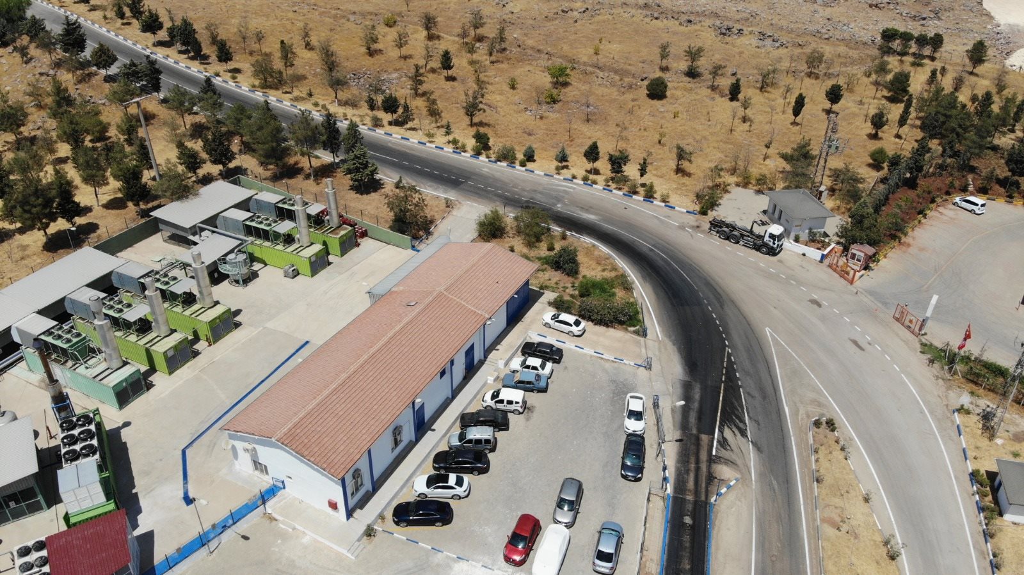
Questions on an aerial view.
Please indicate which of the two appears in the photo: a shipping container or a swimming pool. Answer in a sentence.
There is a shipping container in the scene.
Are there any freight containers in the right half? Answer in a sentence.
No, in the right half there is no freight container.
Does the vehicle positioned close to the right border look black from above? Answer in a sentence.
No, the vehicle positioned close to the right border is white.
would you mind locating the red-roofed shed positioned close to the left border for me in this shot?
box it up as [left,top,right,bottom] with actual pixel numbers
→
[43,507,143,575]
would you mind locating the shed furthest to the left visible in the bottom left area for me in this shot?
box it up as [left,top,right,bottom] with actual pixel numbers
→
[0,415,48,519]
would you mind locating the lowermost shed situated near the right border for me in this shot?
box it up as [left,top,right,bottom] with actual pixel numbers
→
[987,458,1024,532]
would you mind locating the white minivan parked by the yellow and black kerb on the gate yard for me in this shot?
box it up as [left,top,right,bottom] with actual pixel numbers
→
[950,194,991,214]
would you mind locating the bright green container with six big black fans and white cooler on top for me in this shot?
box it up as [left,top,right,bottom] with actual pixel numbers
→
[57,404,123,525]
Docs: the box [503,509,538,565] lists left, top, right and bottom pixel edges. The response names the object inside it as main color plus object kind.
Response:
red car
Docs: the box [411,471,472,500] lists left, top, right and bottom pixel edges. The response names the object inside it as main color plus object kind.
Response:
white car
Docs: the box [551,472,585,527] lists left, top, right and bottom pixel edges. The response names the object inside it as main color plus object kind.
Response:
gray car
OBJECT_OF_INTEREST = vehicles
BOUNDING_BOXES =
[551,472,585,527]
[503,509,538,565]
[511,354,558,377]
[411,471,472,500]
[432,447,491,476]
[519,340,566,362]
[390,497,455,528]
[445,422,498,453]
[621,433,648,481]
[458,407,510,431]
[593,516,626,574]
[624,393,648,436]
[713,219,788,256]
[541,313,588,337]
[950,194,991,214]
[479,384,530,415]
[500,369,550,393]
